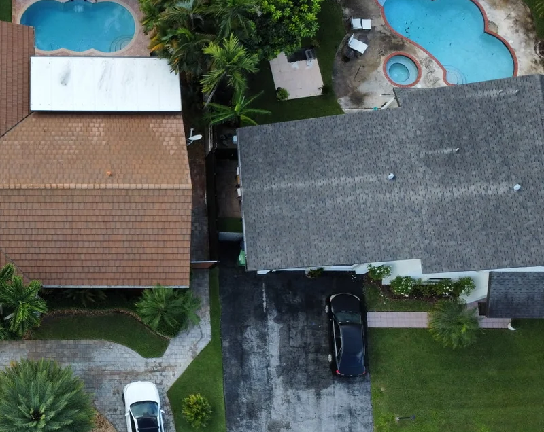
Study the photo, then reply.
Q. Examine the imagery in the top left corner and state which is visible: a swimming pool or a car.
swimming pool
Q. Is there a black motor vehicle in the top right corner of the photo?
No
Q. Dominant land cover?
buildings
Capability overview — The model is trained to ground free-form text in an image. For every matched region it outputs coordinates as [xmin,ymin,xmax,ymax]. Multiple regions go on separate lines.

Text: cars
[323,293,371,378]
[123,380,168,432]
